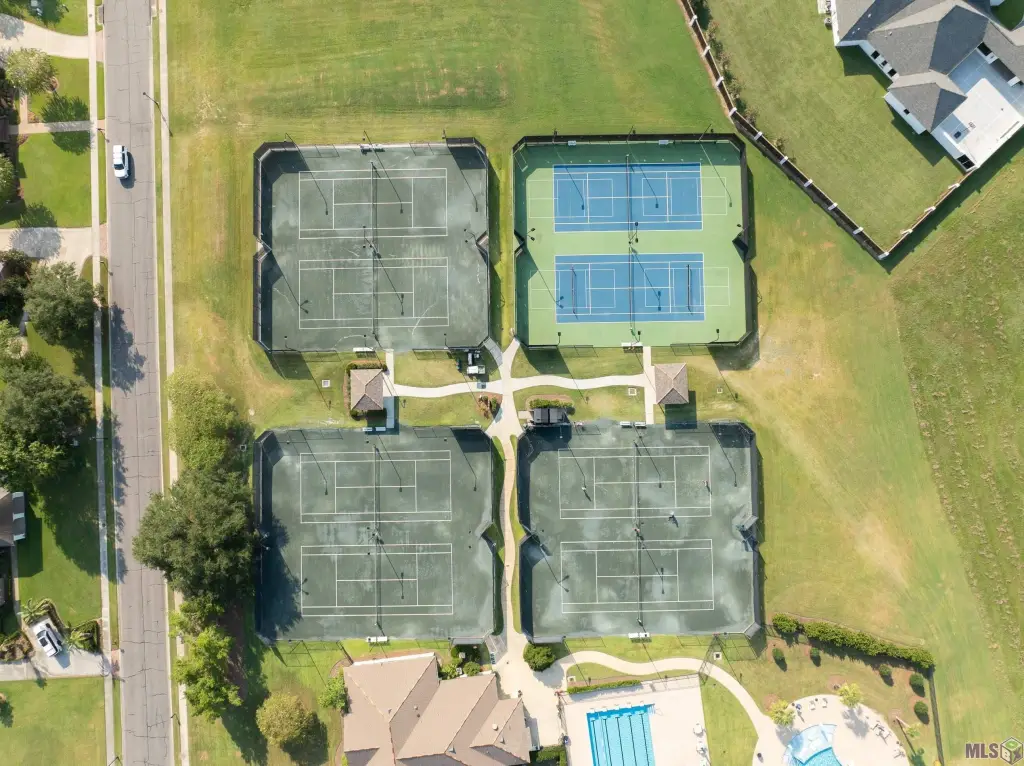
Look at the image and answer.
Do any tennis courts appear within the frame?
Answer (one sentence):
Yes, a tennis court appears in the view.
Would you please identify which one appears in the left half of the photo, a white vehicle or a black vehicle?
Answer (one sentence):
Visible in the left half of the photo is a white vehicle.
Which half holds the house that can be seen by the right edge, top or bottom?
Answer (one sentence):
It is in the top half that the house that can be seen by the right edge appears.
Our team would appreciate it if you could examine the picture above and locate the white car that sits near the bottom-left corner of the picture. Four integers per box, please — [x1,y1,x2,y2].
[34,621,61,657]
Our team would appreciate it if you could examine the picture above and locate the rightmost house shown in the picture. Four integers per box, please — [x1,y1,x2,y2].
[835,0,1024,176]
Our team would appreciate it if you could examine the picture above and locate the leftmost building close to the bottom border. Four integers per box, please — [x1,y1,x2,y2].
[343,651,530,766]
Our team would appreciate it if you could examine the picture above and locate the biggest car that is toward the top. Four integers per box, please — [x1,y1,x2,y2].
[111,145,130,180]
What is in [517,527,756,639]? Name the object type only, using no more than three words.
tennis court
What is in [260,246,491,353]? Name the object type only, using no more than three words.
tennis court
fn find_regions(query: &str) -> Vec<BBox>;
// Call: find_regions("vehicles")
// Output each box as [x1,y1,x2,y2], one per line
[111,145,130,180]
[467,364,487,373]
[34,621,61,657]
